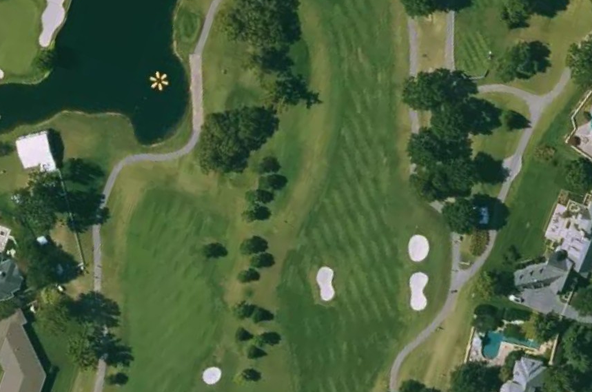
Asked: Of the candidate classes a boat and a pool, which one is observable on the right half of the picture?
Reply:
pool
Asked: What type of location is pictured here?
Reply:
golf course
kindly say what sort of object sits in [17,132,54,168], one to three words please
tent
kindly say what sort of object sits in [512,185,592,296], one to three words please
house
